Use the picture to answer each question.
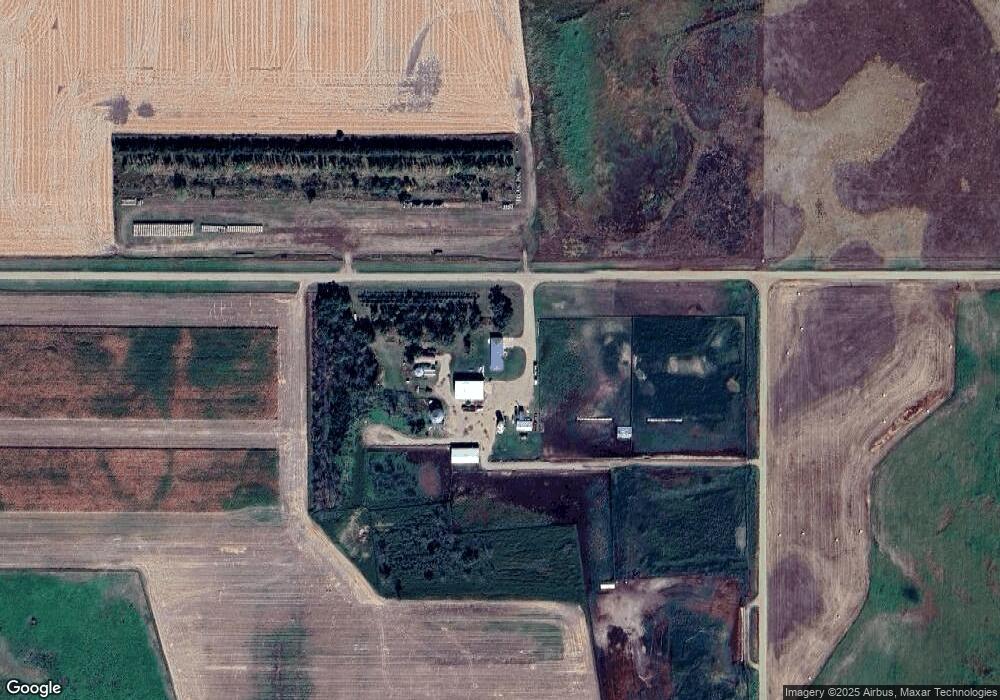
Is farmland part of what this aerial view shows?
Yes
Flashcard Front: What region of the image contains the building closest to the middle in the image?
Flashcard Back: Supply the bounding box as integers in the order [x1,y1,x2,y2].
[490,338,507,372]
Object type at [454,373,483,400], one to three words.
barn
